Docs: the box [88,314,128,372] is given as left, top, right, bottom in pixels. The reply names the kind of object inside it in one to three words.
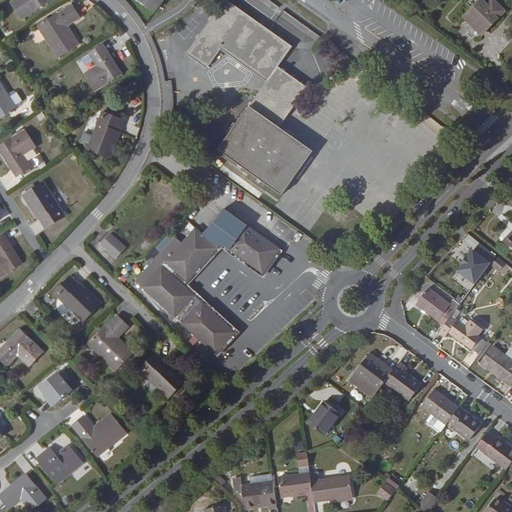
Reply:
house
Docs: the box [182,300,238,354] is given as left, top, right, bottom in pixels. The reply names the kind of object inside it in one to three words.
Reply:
building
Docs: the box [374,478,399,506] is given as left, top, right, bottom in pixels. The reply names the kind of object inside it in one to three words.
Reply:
barn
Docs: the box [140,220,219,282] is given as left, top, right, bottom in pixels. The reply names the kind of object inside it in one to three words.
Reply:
building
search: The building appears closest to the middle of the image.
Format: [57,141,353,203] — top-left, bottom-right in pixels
[228,226,282,276]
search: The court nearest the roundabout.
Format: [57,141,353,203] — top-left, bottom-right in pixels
[294,121,366,223]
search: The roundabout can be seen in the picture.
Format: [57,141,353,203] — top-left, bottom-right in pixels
[322,270,384,332]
